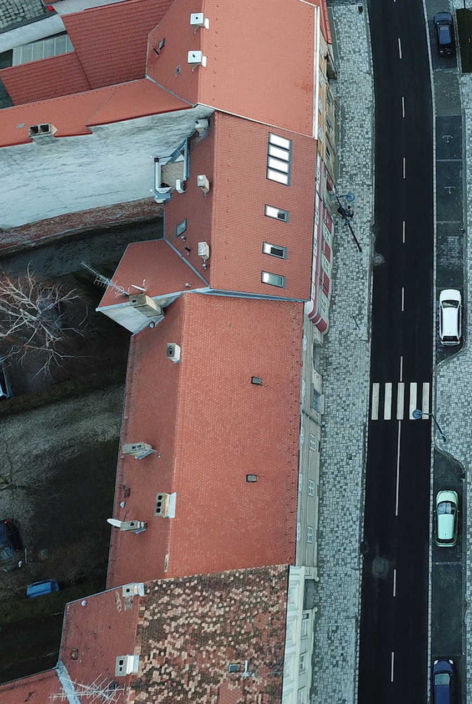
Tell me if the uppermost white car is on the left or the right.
right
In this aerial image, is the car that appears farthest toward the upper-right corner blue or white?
blue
